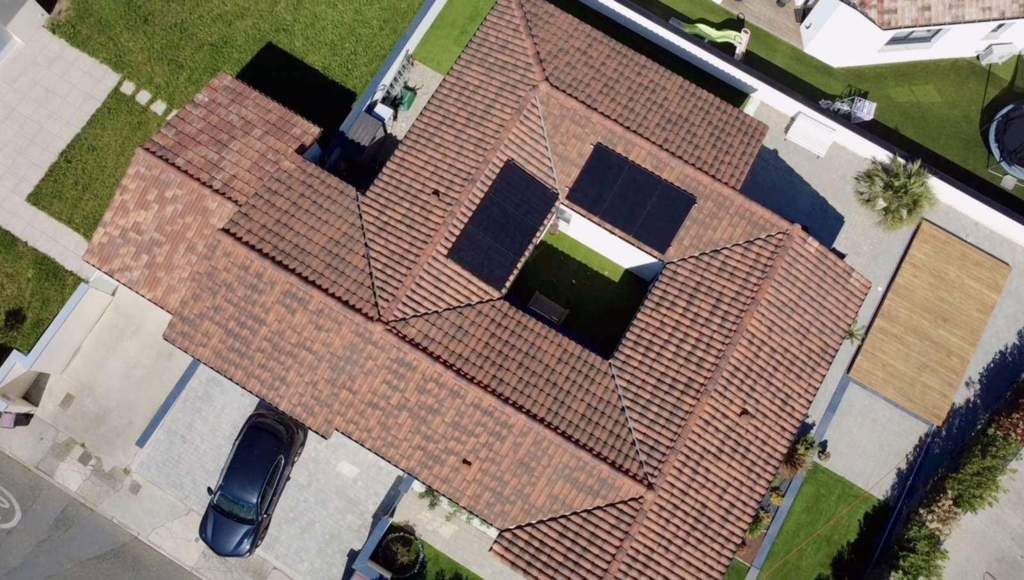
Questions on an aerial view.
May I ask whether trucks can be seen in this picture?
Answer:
No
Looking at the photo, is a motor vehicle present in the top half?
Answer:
No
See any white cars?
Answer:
No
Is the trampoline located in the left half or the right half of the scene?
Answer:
right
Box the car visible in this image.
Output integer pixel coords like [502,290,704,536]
[202,401,311,560]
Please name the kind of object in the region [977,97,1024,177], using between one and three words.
trampoline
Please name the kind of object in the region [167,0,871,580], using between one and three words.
house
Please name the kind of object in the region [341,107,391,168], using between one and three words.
shed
